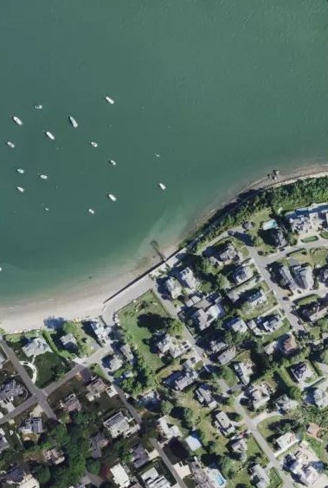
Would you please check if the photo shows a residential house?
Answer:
Yes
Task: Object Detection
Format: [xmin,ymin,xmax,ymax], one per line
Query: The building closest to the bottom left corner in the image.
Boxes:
[1,464,25,487]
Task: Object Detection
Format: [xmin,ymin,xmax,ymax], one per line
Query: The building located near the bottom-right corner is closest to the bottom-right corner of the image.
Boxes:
[303,466,328,488]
